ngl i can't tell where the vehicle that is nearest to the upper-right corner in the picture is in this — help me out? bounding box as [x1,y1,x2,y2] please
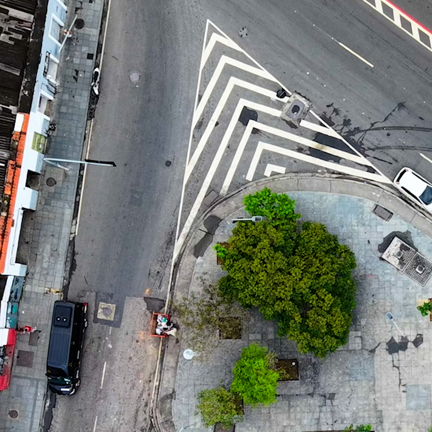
[392,165,432,213]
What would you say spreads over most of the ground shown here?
paved ground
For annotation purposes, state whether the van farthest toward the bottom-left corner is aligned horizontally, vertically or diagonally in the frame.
vertically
